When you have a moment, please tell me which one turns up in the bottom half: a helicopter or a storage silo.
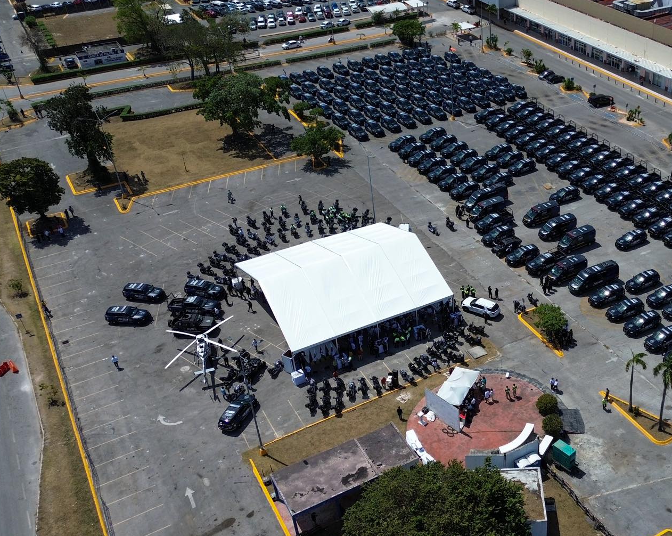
helicopter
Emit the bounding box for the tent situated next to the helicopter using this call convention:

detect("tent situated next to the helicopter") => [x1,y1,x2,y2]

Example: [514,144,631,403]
[233,221,458,357]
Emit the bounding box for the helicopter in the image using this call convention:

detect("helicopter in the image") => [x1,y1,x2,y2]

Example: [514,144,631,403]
[162,315,239,386]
